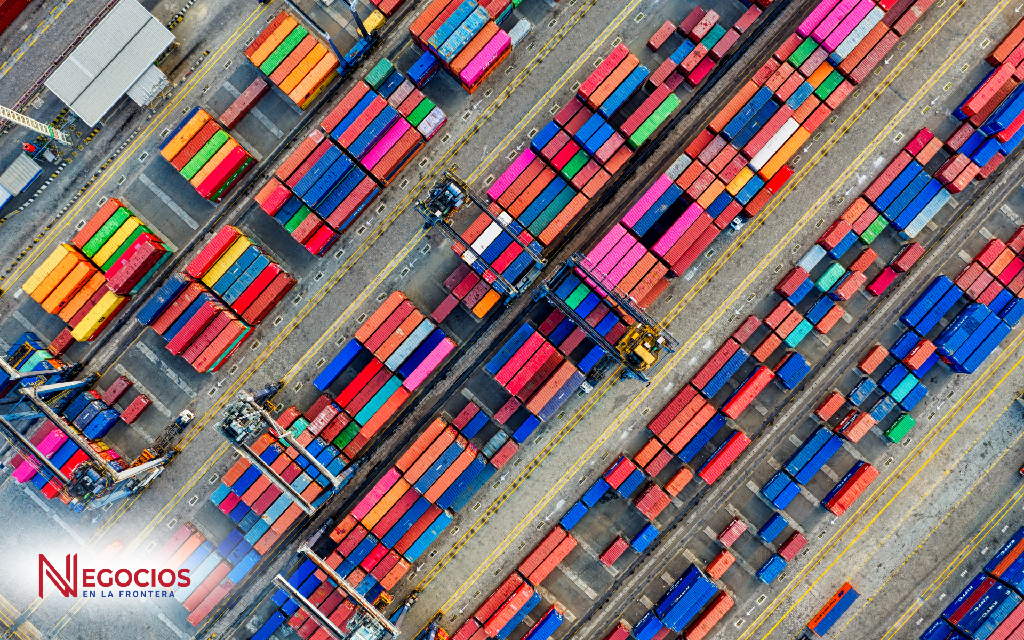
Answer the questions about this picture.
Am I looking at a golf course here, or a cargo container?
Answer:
cargo container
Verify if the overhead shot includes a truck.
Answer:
Yes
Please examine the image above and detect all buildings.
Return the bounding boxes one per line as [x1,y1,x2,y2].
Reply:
[43,149,63,164]
[0,152,50,197]
[43,0,184,131]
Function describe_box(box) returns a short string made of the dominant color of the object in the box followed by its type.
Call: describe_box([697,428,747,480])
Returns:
red shipping container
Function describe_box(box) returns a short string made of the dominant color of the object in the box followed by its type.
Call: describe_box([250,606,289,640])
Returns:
blue shipping container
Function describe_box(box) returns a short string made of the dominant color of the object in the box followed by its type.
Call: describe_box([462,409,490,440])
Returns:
blue shipping container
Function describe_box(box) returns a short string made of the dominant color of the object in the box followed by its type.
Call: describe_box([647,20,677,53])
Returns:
red shipping container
